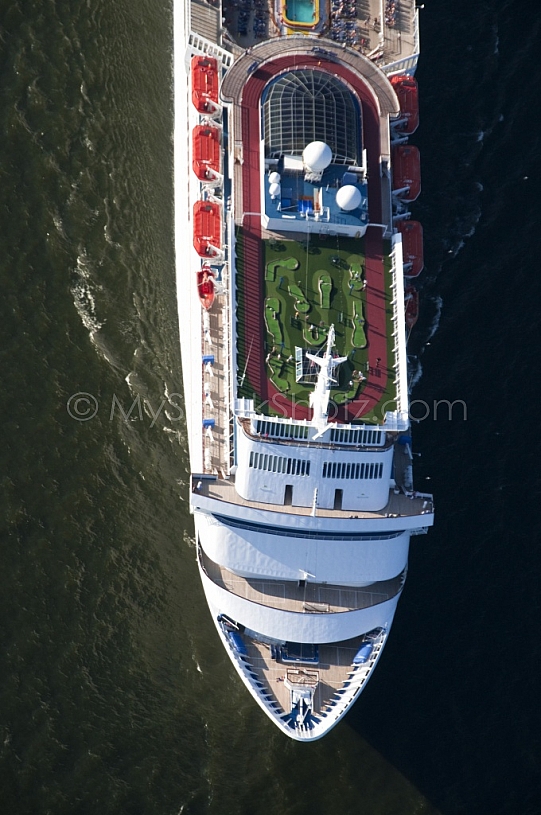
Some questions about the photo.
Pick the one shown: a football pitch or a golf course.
golf course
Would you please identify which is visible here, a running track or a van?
running track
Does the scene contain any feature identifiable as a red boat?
Yes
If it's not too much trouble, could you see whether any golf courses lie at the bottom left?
No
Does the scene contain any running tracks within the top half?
Yes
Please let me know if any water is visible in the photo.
Yes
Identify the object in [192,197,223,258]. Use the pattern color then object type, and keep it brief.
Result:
red boat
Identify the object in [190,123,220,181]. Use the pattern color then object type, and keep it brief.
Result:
red boat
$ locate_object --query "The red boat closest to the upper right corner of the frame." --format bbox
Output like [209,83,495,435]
[389,69,417,126]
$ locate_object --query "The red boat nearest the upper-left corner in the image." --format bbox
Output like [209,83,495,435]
[190,59,220,113]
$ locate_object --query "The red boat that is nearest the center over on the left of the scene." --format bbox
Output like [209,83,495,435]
[198,263,216,314]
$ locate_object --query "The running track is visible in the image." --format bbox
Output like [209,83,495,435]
[241,54,388,423]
